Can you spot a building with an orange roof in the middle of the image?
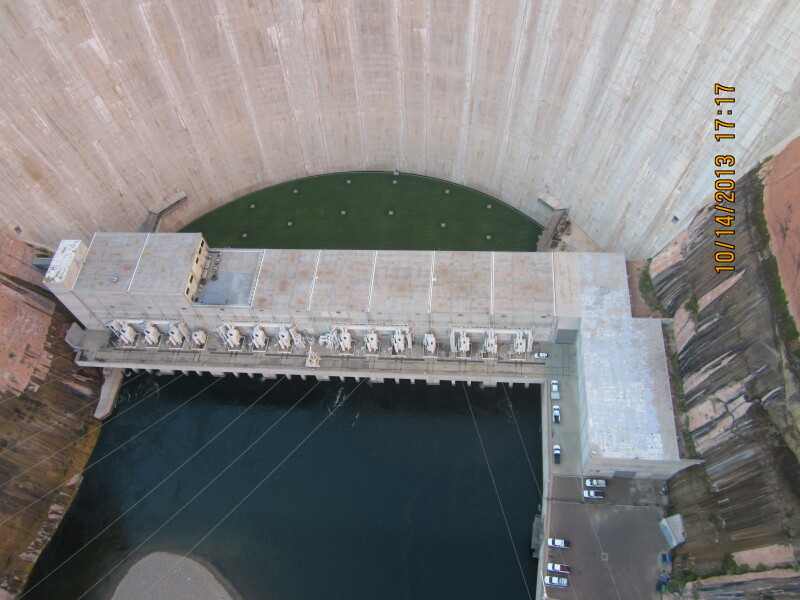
No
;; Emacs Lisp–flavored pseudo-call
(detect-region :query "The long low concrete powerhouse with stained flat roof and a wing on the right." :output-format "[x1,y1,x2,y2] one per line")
[41,230,705,481]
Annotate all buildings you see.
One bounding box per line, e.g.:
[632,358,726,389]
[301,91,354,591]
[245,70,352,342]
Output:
[657,516,686,552]
[41,230,705,481]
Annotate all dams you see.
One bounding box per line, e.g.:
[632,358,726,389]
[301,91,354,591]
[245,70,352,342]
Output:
[0,0,800,292]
